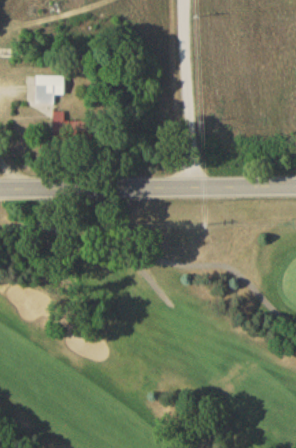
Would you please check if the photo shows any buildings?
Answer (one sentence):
Yes, you can see a building in this photo.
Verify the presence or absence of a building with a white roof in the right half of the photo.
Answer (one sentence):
No, looking in the right half of the photo, there is no building with a white roof.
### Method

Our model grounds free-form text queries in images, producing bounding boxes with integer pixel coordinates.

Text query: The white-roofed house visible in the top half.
[35,74,64,103]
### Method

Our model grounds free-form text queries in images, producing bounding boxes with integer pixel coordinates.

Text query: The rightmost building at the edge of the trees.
[53,111,80,132]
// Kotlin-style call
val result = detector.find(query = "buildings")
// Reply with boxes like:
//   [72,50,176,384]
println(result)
[35,74,64,103]
[53,111,80,132]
